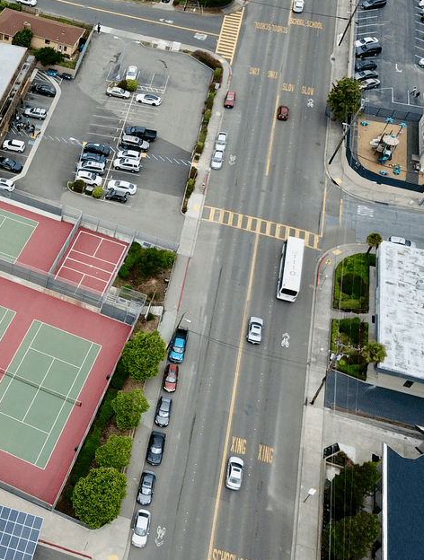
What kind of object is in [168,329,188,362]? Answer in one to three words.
vehicle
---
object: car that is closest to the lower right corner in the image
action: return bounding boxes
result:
[225,457,244,491]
